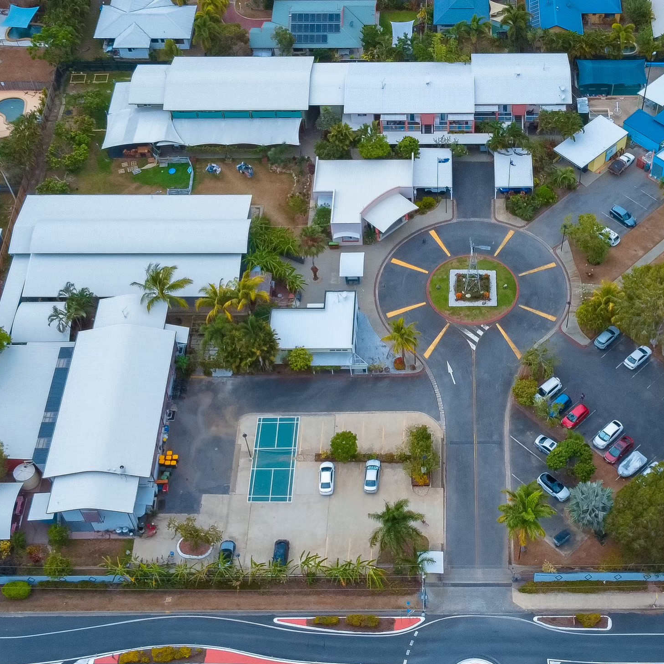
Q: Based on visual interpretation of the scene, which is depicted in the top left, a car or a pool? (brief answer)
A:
pool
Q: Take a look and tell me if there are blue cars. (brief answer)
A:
Yes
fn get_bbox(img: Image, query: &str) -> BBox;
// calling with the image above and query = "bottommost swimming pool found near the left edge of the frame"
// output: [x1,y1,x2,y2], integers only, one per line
[0,97,27,123]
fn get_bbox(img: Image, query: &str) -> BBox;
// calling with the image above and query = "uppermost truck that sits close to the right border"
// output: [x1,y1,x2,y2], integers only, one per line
[606,153,634,175]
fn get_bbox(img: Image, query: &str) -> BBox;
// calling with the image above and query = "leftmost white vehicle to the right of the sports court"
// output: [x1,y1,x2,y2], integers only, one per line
[318,461,335,496]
